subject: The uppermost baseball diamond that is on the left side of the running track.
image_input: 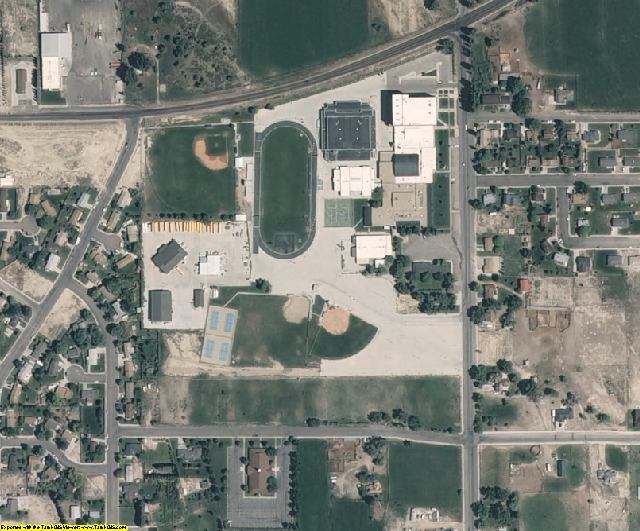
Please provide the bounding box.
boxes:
[146,124,235,214]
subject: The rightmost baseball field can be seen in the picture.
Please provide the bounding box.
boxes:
[306,296,378,367]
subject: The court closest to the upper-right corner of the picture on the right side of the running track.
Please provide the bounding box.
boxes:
[324,199,354,226]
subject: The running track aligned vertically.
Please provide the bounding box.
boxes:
[254,121,317,259]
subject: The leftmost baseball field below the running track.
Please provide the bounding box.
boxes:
[227,294,309,367]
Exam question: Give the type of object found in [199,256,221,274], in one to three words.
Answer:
building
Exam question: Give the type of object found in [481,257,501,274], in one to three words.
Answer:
house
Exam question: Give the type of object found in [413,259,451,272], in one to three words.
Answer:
house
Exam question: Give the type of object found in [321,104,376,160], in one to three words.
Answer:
building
